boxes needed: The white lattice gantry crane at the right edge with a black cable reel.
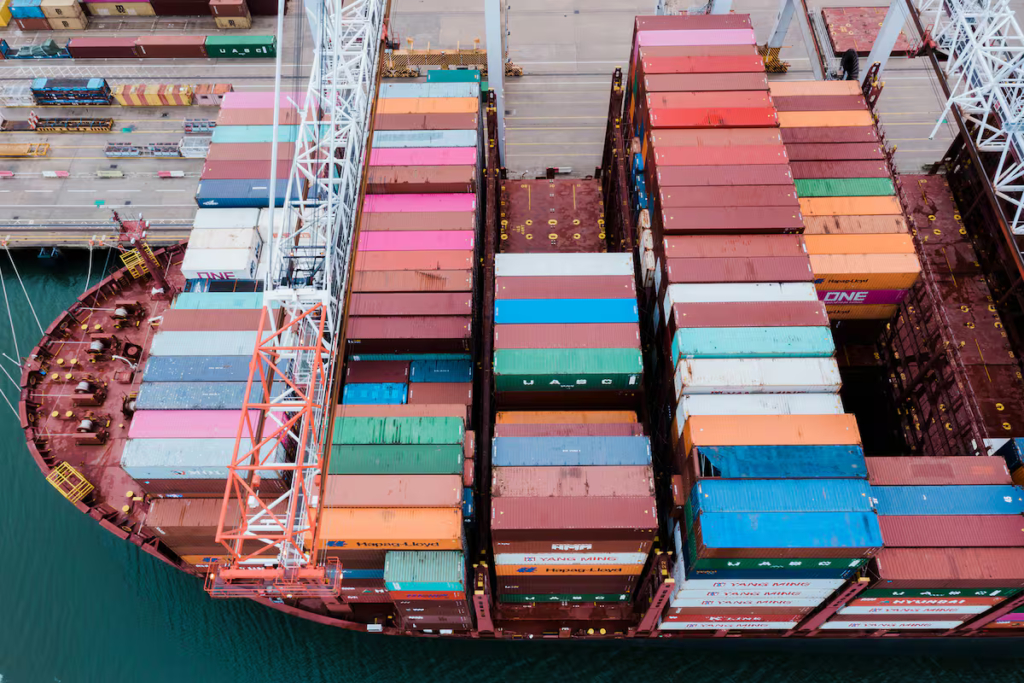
[658,0,1024,309]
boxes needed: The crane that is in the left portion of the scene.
[202,0,529,601]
